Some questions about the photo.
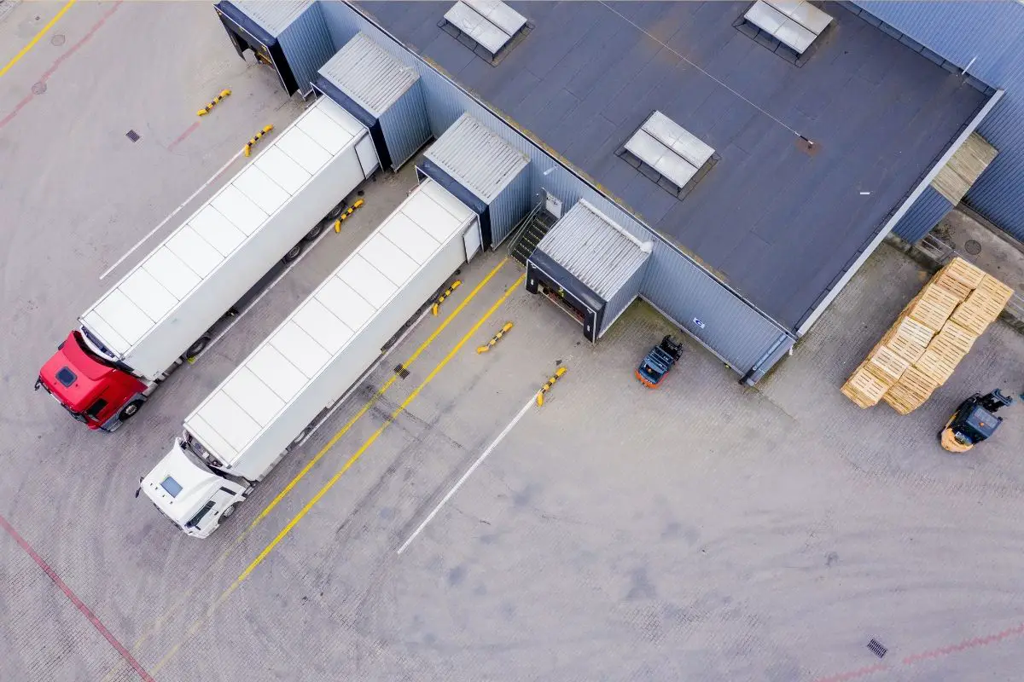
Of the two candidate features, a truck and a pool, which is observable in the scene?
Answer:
truck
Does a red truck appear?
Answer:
Yes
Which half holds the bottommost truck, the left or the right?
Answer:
left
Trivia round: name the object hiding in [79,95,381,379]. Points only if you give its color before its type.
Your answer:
white trailer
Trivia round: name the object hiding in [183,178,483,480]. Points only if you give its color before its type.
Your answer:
white trailer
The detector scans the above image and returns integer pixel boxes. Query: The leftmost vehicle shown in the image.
[32,328,206,434]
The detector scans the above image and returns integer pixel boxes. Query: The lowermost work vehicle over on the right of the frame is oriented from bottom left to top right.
[935,383,1018,457]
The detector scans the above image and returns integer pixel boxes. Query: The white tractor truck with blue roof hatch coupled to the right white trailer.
[134,430,307,539]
